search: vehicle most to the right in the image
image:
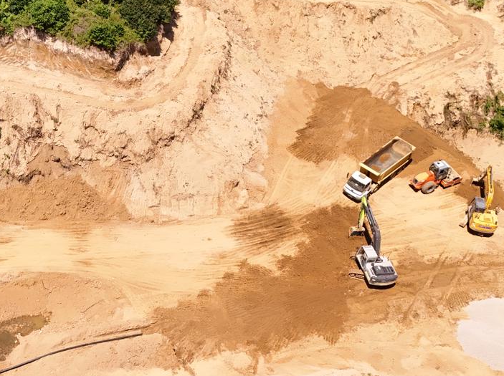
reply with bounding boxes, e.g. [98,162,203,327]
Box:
[455,166,496,239]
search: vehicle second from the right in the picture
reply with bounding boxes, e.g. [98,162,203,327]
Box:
[411,162,463,200]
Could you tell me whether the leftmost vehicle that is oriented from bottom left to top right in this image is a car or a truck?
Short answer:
truck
